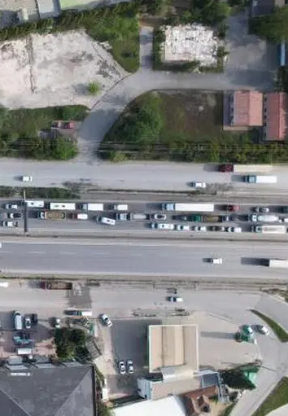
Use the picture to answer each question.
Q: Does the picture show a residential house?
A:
Yes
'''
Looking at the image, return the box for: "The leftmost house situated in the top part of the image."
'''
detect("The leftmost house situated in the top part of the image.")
[223,91,263,129]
